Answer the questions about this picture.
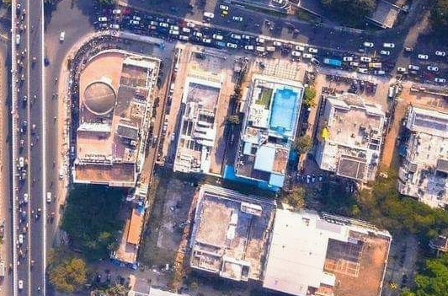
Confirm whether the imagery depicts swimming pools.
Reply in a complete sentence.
Yes, the frame does contain a swimming pool.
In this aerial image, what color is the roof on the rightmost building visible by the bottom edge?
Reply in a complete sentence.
From above, the roof of the rightmost building visible by the bottom edge looks white.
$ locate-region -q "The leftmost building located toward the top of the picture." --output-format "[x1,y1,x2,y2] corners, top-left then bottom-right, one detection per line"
[72,48,159,184]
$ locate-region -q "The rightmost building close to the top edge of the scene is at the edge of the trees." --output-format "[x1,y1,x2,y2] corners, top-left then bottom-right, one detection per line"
[378,3,401,30]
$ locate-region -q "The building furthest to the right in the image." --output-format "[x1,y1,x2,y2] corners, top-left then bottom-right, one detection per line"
[390,101,448,208]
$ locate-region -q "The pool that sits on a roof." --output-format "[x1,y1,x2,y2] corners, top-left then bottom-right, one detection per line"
[269,85,299,132]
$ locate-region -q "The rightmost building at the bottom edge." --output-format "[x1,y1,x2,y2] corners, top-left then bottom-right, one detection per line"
[260,206,392,296]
